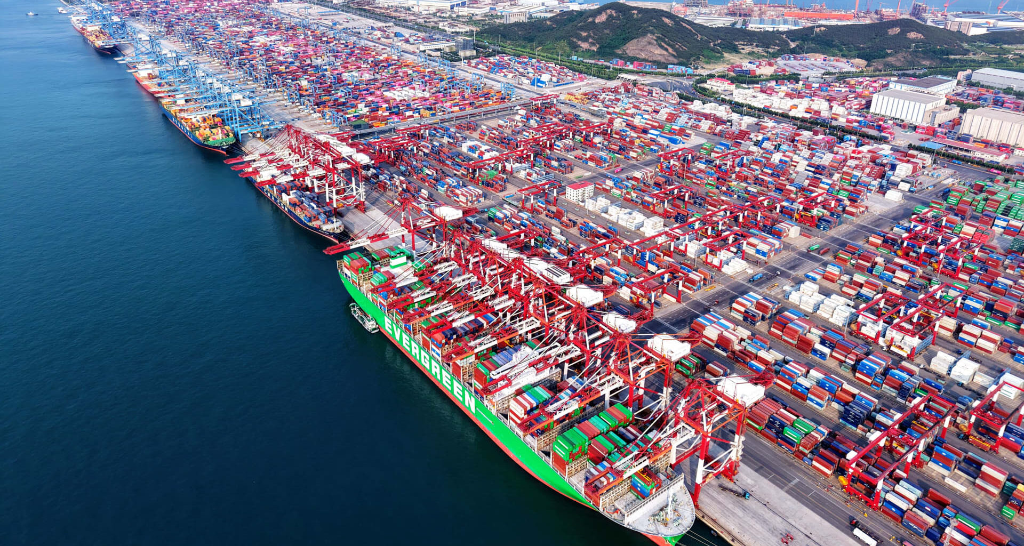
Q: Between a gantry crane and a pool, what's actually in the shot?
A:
gantry crane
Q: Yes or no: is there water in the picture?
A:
Yes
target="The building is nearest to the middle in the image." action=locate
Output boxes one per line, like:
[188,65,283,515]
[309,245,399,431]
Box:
[569,180,599,203]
